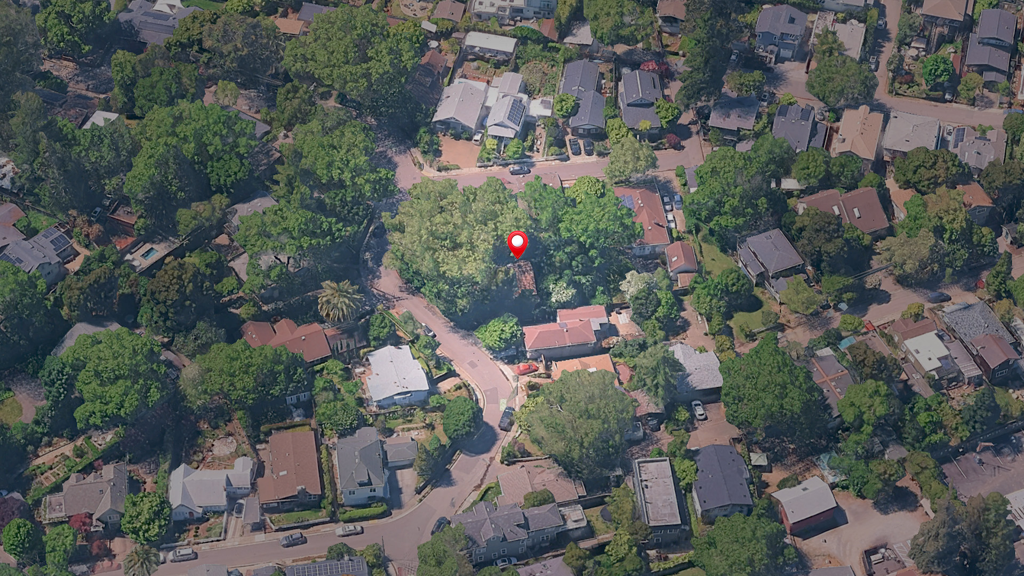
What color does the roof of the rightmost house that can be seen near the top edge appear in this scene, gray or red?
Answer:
gray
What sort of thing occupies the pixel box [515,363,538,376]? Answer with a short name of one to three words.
vehicle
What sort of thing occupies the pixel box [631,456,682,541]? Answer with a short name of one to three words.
building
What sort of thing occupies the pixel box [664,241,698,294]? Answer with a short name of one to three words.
house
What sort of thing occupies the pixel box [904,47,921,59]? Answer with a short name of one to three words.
umbrella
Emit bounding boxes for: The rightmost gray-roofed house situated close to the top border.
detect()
[961,8,1017,92]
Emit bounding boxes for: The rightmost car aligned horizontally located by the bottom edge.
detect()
[491,554,520,568]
